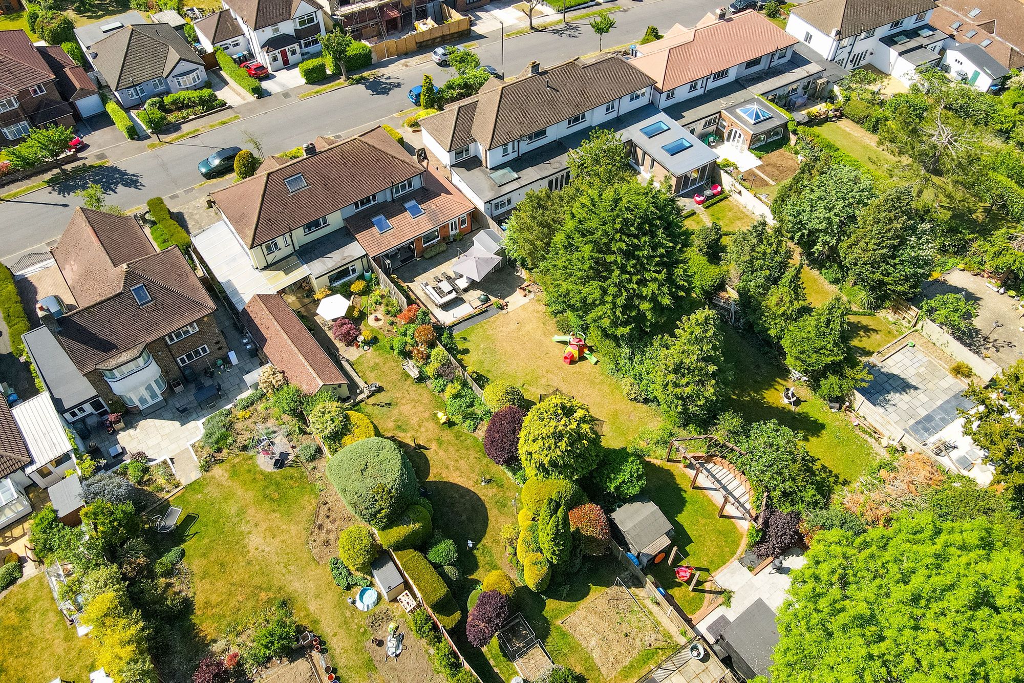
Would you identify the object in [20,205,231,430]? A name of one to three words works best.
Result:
house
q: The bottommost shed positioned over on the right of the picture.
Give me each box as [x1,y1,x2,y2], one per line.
[606,499,682,585]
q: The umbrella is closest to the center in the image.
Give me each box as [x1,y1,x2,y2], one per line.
[451,229,502,282]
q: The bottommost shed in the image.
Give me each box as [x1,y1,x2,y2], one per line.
[366,550,408,608]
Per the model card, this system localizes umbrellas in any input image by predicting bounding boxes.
[315,296,353,323]
[451,229,502,282]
